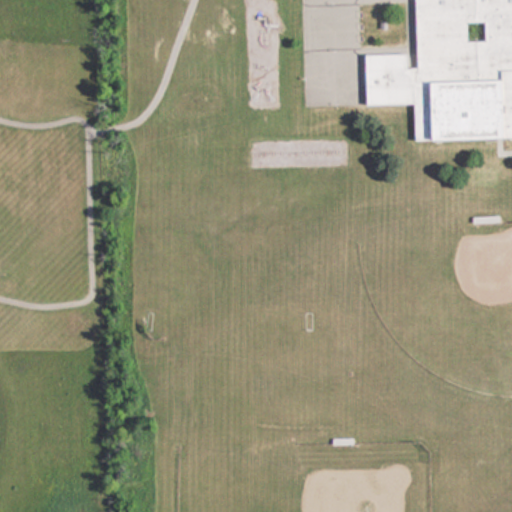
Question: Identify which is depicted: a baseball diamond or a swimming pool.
baseball diamond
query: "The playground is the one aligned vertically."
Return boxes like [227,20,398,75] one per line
[244,0,286,108]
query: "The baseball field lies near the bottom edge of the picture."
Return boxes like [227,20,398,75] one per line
[302,464,412,512]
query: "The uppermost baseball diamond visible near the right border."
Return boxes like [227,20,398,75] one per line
[455,228,512,305]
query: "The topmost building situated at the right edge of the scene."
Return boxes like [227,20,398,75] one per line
[366,0,512,141]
